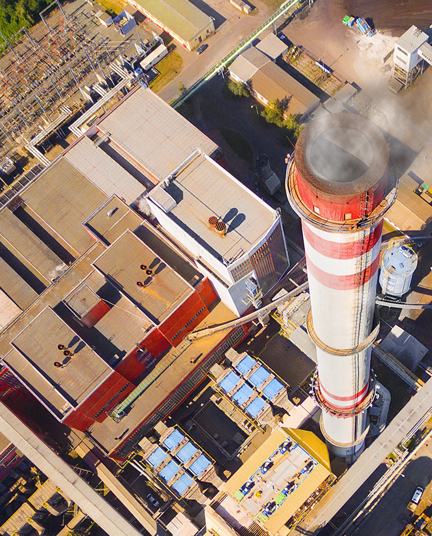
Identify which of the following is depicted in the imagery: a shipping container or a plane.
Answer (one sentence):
The image shows a shipping container.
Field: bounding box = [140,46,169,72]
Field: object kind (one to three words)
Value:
shipping container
